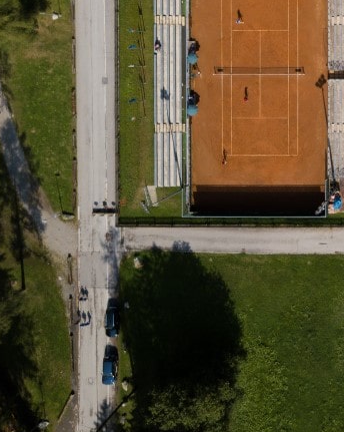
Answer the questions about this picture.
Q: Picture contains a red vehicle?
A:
No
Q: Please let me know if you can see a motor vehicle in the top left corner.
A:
No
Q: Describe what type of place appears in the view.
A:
sports ground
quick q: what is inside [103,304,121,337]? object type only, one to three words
car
